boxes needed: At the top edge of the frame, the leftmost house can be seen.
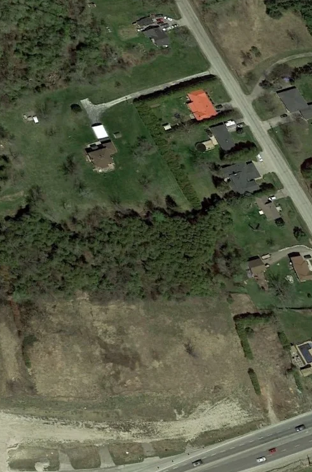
[136,15,170,51]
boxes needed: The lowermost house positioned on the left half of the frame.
[86,139,116,173]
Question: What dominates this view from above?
grass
